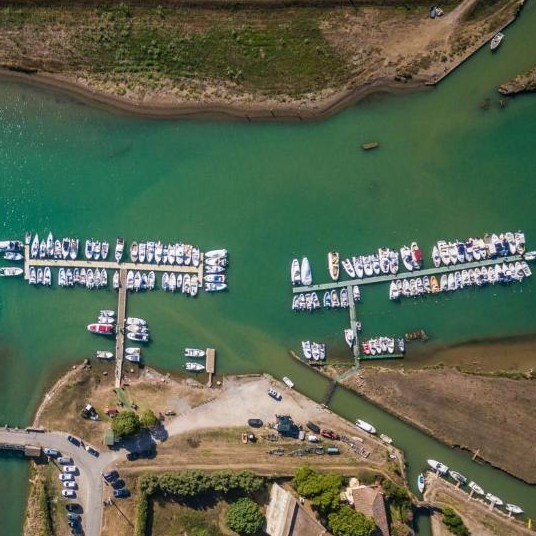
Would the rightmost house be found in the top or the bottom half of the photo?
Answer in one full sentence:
It is in the bottom half that the rightmost house appears.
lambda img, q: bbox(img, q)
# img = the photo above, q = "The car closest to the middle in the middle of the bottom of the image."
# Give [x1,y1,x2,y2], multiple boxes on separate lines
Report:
[267,388,283,401]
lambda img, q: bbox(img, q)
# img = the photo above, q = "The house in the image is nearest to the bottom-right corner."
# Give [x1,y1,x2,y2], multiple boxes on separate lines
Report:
[346,477,391,536]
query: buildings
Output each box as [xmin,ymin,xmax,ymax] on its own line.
[346,477,391,536]
[103,427,114,445]
[260,478,330,536]
[274,416,294,433]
